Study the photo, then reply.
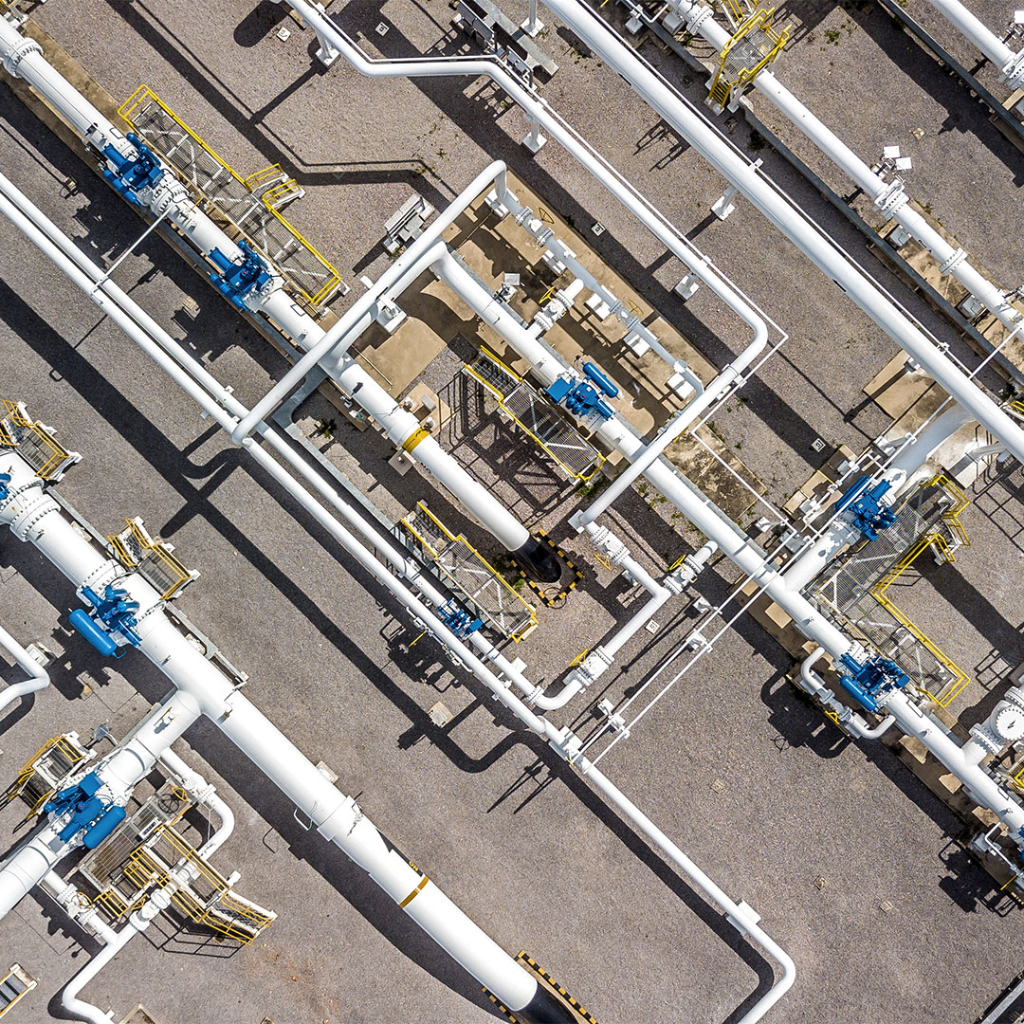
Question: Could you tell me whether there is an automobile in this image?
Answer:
No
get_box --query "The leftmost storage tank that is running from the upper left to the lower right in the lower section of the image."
[74,609,131,655]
